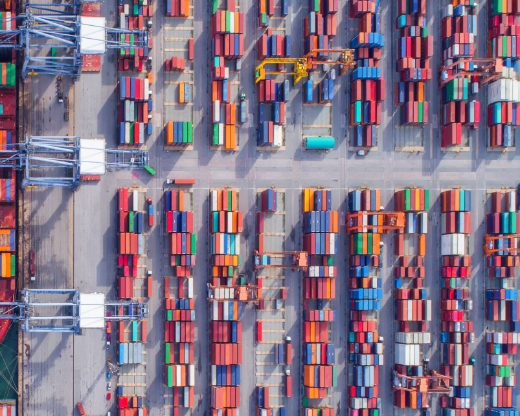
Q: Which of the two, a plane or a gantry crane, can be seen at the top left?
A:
gantry crane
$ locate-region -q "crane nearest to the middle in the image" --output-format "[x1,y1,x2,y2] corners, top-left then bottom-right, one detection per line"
[253,249,307,273]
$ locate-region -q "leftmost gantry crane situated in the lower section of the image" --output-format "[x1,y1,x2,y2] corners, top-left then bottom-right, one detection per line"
[0,285,149,336]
